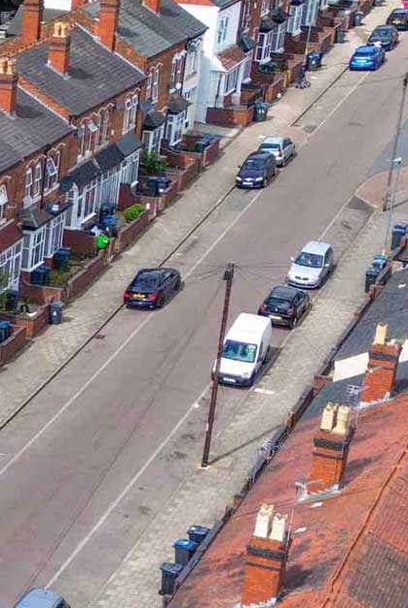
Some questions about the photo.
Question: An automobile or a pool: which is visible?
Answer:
automobile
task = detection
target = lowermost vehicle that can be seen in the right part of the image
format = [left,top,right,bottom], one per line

[217,306,279,377]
